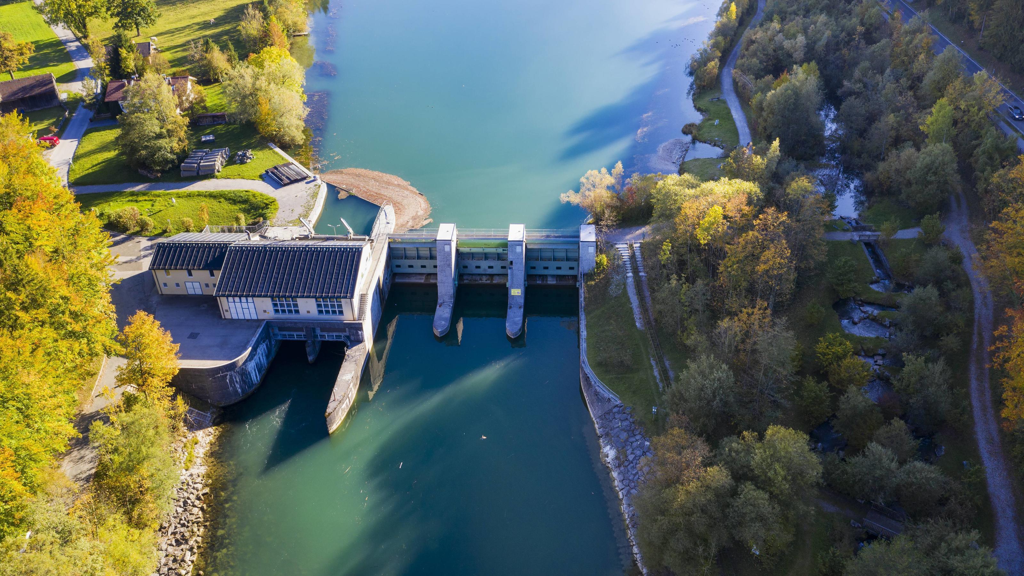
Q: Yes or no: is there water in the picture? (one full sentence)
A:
Yes, the picture does contain water.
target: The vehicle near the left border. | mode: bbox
[36,135,59,148]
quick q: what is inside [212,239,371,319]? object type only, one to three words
building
